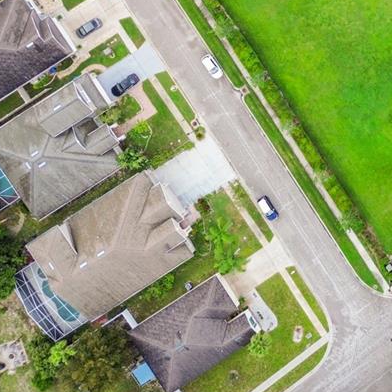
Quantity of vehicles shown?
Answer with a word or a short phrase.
4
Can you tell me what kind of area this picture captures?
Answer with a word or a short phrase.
residential area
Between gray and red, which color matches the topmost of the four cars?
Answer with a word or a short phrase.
gray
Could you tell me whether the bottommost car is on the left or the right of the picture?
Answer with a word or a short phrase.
right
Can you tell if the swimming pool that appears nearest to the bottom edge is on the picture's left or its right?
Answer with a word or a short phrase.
left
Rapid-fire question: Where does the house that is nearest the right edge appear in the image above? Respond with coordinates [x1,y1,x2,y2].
[127,271,260,392]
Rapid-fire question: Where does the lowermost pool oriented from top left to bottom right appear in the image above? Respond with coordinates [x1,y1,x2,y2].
[42,281,79,322]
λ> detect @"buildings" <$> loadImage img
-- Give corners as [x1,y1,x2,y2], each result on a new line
[0,73,124,222]
[0,0,76,101]
[127,271,260,392]
[25,170,198,323]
